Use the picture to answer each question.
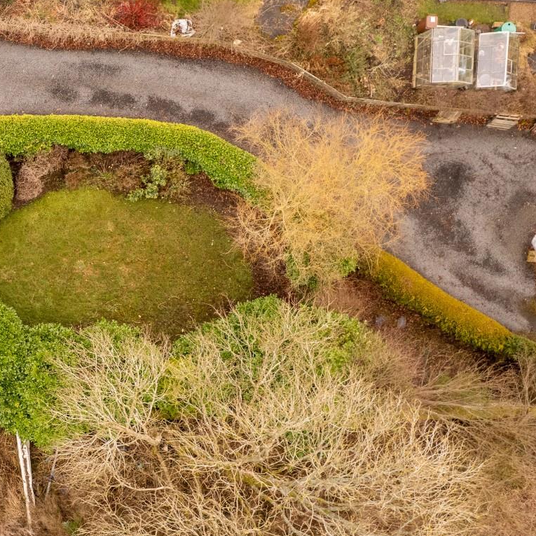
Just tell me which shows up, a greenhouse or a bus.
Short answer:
greenhouse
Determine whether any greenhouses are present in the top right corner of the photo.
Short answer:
Yes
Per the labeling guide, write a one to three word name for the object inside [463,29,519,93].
greenhouse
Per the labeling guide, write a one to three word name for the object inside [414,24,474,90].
greenhouse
